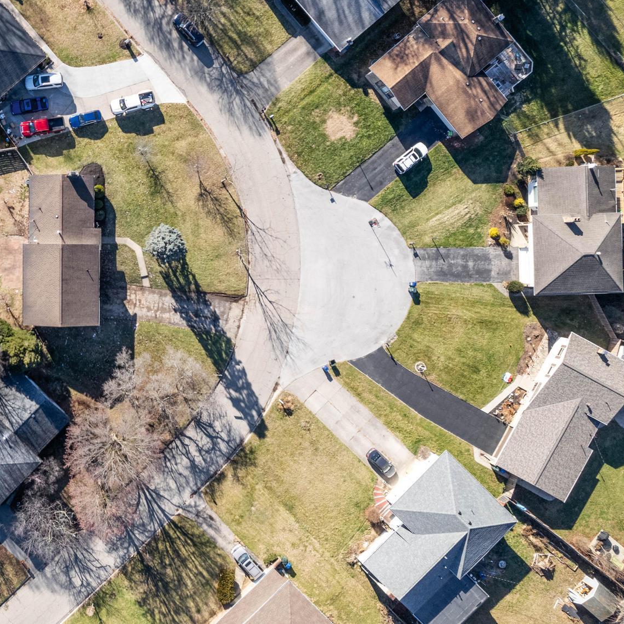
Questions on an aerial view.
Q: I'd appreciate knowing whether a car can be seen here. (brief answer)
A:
Yes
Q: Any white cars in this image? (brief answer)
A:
Yes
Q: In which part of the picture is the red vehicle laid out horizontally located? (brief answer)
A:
top left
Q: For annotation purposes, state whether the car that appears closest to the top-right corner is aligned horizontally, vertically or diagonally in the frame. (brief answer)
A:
diagonally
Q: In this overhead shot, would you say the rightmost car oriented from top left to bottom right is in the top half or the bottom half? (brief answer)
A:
bottom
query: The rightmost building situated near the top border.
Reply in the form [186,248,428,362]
[365,0,514,140]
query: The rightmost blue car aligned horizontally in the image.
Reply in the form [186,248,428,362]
[68,111,102,129]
